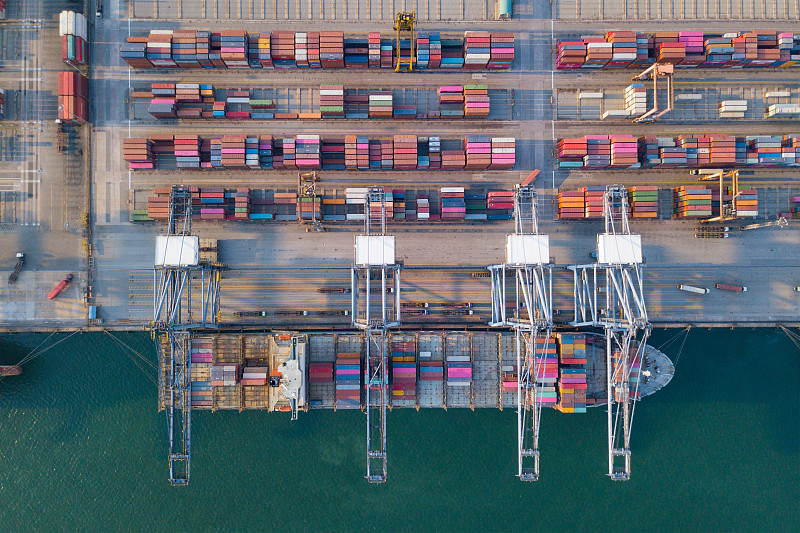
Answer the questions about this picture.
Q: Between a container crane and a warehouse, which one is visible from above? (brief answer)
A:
container crane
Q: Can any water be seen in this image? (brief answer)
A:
Yes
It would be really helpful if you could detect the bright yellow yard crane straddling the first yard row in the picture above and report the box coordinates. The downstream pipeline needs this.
[392,5,416,73]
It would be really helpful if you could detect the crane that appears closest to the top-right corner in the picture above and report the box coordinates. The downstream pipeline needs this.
[634,59,675,124]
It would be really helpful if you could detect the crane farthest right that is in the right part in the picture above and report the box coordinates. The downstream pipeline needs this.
[695,168,740,225]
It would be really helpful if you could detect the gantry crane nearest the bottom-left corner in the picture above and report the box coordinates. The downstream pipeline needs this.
[144,186,235,488]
